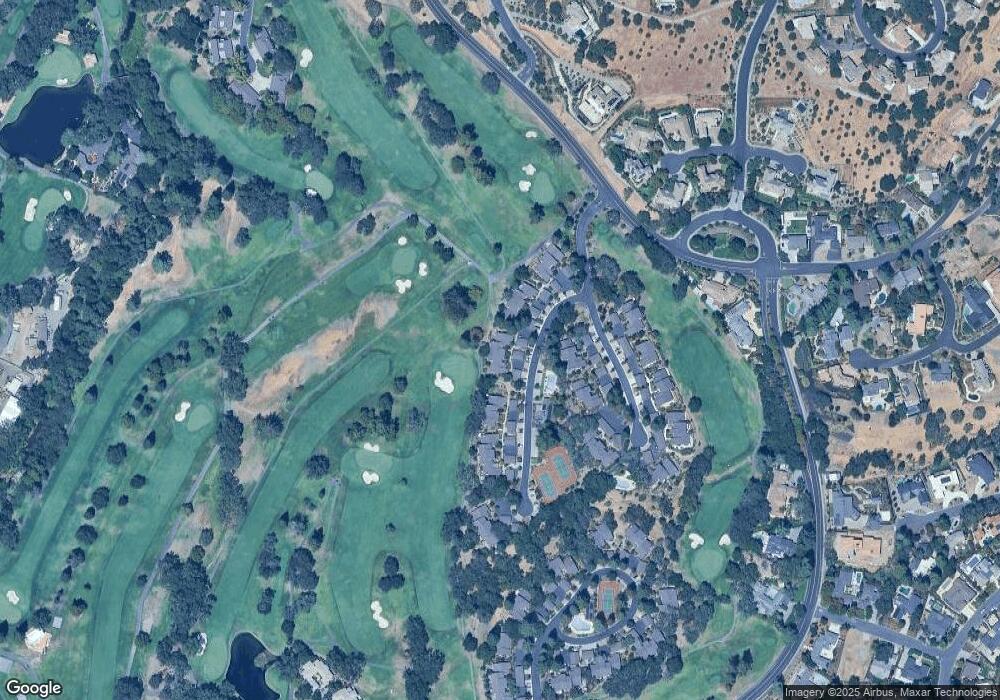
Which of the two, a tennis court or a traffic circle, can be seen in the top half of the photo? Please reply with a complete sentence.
There is a traffic circle in the top half of the photo.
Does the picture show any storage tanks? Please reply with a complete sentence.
No, no storage tank is visible in the scene.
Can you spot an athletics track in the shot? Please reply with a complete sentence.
No, the scene contains no athletics track.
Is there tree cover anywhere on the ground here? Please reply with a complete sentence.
Yes, tree cover shows up in the scene.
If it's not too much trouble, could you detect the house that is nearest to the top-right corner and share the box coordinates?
[954,2,973,21]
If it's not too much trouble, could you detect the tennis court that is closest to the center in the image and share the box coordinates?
[532,447,577,504]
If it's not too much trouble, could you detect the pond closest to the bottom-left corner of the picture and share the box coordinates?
[226,633,280,700]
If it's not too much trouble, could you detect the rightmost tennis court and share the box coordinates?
[597,581,620,617]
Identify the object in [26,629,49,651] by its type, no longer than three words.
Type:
shed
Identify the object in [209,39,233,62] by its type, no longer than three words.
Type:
house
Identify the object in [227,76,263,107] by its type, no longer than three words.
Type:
house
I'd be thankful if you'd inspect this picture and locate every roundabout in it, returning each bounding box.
[673,204,775,277]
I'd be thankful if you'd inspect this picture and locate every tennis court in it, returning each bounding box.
[597,581,620,617]
[532,447,577,504]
